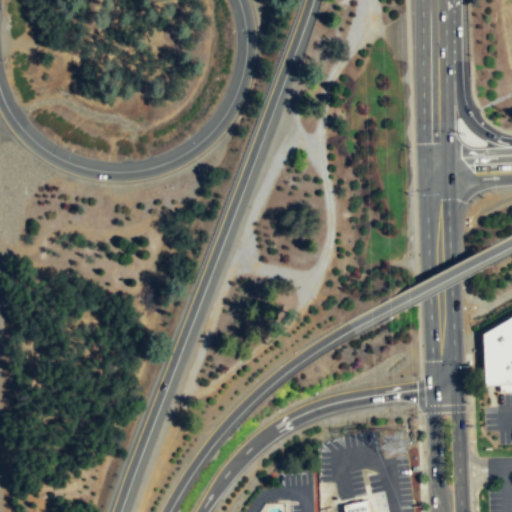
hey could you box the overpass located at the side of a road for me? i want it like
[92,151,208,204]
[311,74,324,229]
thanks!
[352,234,512,336]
